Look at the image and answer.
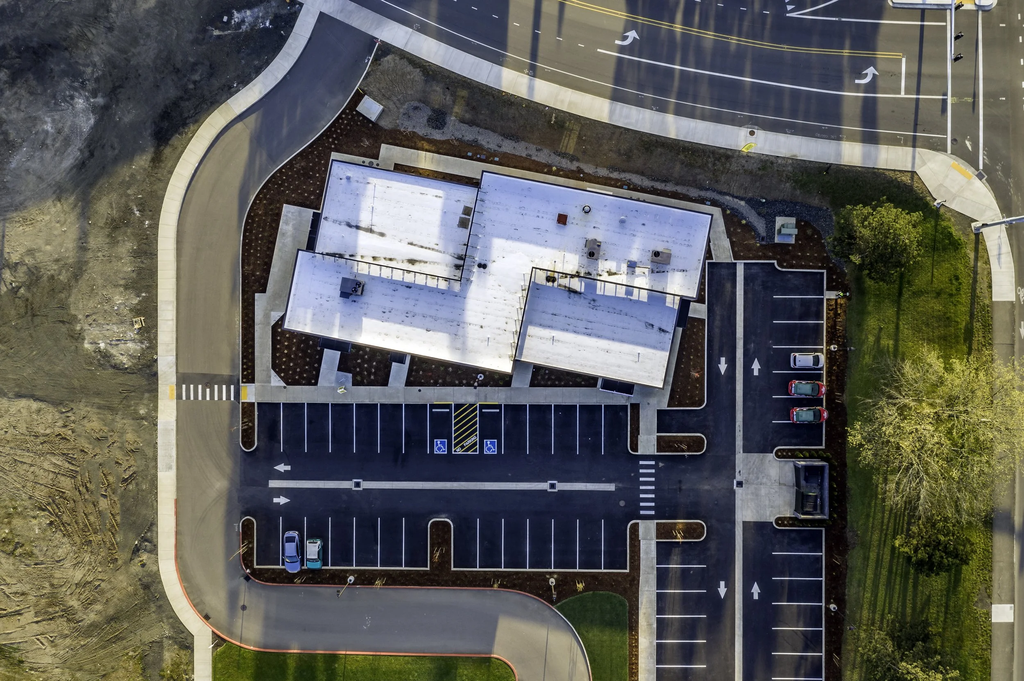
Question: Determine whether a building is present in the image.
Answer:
Yes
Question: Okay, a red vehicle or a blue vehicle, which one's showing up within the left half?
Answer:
blue vehicle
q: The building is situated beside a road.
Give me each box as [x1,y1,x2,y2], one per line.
[278,159,717,396]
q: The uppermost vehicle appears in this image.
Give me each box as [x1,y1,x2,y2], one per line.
[788,351,822,370]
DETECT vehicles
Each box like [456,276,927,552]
[788,406,825,425]
[282,529,302,571]
[306,536,324,568]
[787,380,824,399]
[788,351,822,370]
